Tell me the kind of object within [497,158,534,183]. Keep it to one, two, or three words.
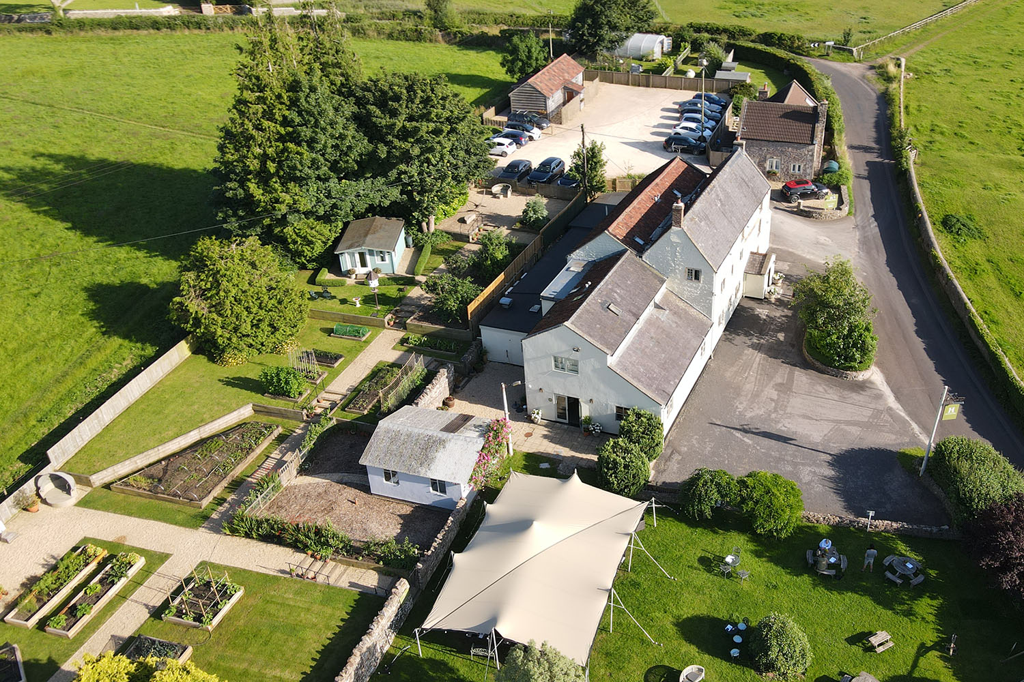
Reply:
car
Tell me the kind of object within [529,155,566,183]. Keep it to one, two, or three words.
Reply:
car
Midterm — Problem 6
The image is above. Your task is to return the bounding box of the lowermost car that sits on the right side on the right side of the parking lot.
[782,179,832,202]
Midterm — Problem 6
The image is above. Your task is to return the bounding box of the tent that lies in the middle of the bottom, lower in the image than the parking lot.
[381,457,676,682]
